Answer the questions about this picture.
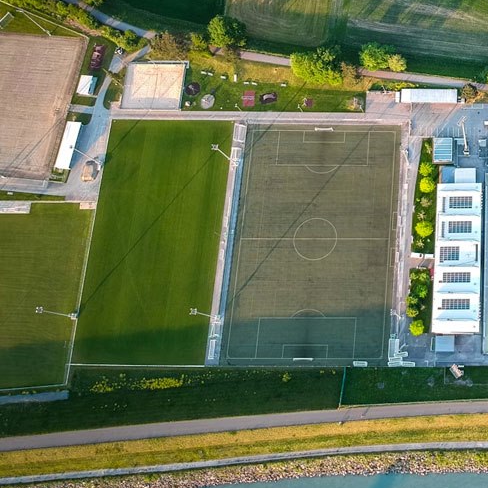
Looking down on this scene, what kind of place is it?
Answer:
sports ground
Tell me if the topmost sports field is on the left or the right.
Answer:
left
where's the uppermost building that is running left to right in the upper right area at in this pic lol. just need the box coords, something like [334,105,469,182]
[398,89,458,106]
